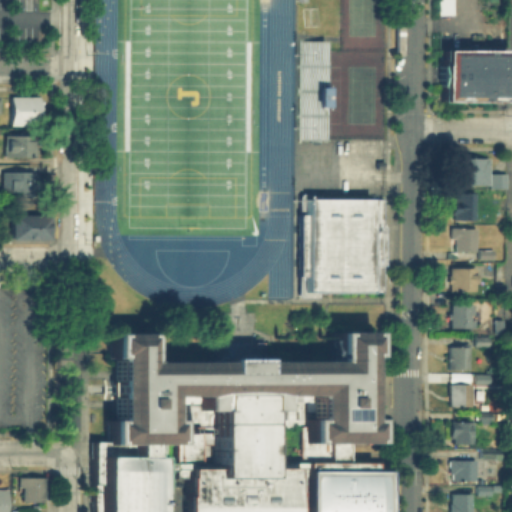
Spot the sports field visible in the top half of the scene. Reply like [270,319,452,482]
[117,0,260,236]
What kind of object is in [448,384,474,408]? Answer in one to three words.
house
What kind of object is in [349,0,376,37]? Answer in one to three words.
tennis court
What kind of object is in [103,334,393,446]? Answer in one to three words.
building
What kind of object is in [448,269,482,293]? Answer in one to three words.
house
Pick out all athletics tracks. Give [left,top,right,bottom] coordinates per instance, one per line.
[97,0,296,303]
